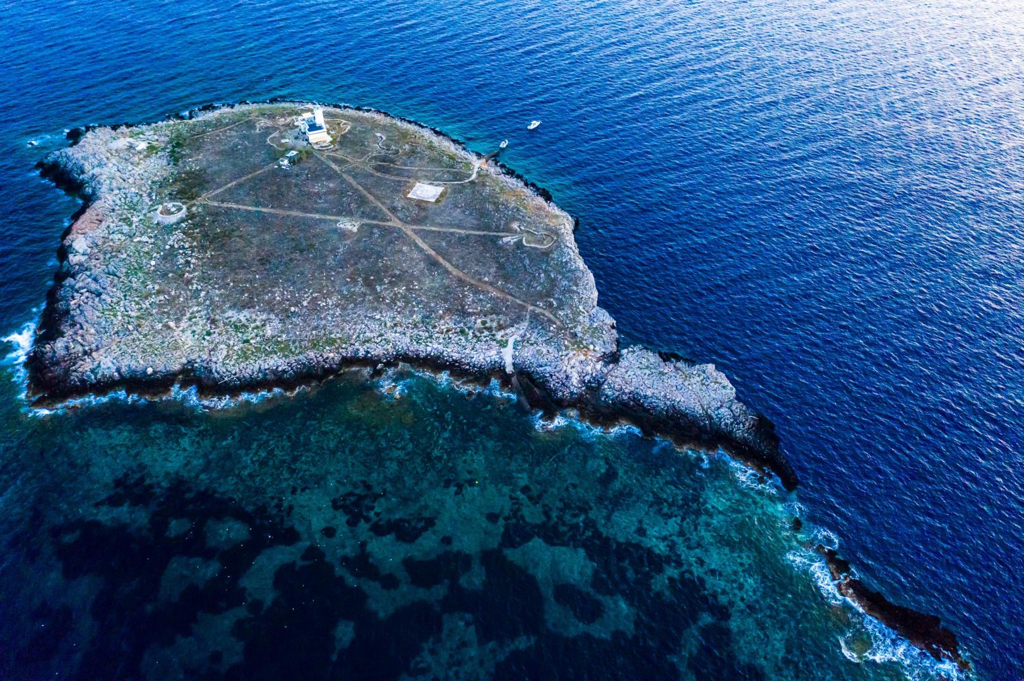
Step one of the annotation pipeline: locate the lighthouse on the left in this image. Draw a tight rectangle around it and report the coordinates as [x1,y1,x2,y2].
[291,106,338,146]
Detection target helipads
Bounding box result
[407,183,444,202]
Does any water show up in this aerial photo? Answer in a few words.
Yes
